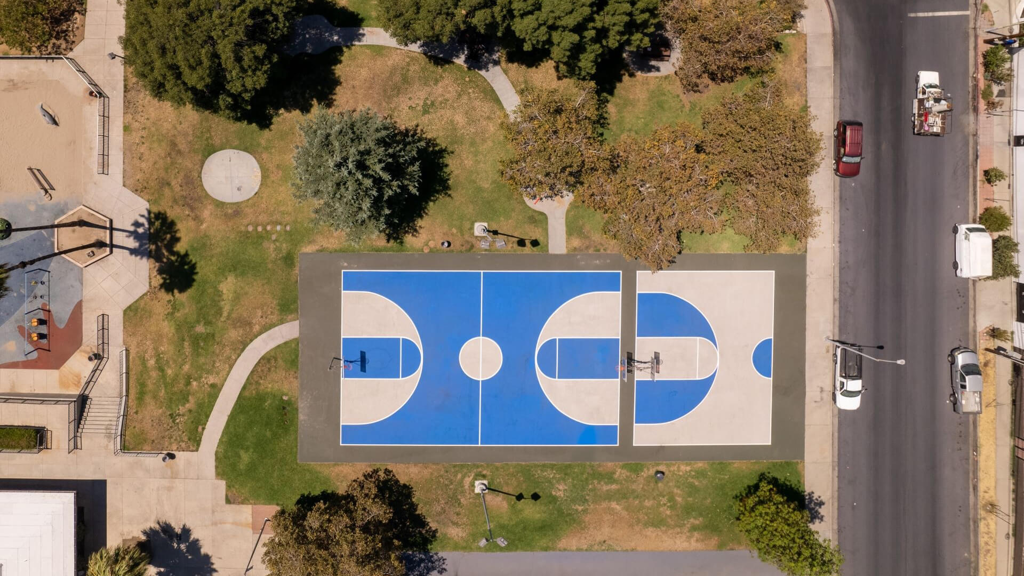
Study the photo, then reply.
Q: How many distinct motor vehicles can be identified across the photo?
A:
five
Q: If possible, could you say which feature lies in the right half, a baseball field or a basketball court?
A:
basketball court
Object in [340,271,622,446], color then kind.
blue basketball court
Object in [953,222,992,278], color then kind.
white van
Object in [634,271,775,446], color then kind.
white basketball court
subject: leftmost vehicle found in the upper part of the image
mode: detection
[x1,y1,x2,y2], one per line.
[835,121,865,177]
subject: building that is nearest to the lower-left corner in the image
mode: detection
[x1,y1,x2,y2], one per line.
[0,481,87,576]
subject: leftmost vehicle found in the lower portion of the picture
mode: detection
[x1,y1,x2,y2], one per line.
[834,344,866,410]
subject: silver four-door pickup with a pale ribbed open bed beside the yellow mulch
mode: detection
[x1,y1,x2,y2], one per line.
[950,348,987,416]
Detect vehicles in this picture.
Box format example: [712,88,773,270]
[835,121,865,177]
[834,344,866,410]
[953,222,992,278]
[908,71,950,136]
[950,348,987,416]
